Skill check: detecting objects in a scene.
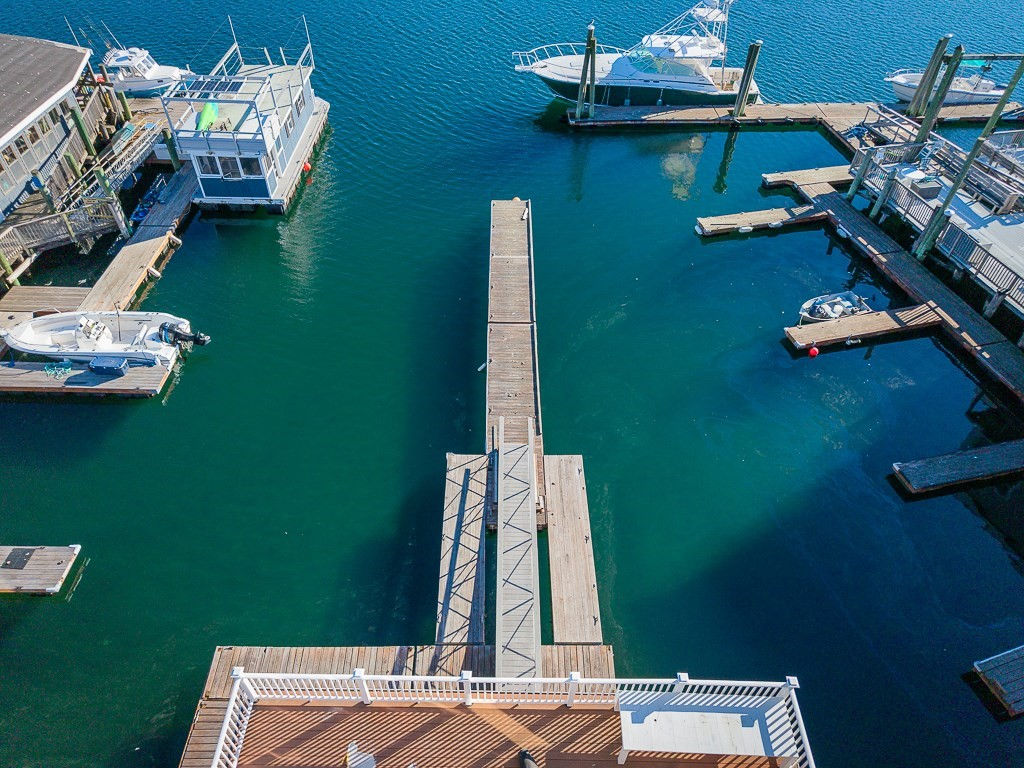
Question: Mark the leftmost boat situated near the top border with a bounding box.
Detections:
[65,20,199,111]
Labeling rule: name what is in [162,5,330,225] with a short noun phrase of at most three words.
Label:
boat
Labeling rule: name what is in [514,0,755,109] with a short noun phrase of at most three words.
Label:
boat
